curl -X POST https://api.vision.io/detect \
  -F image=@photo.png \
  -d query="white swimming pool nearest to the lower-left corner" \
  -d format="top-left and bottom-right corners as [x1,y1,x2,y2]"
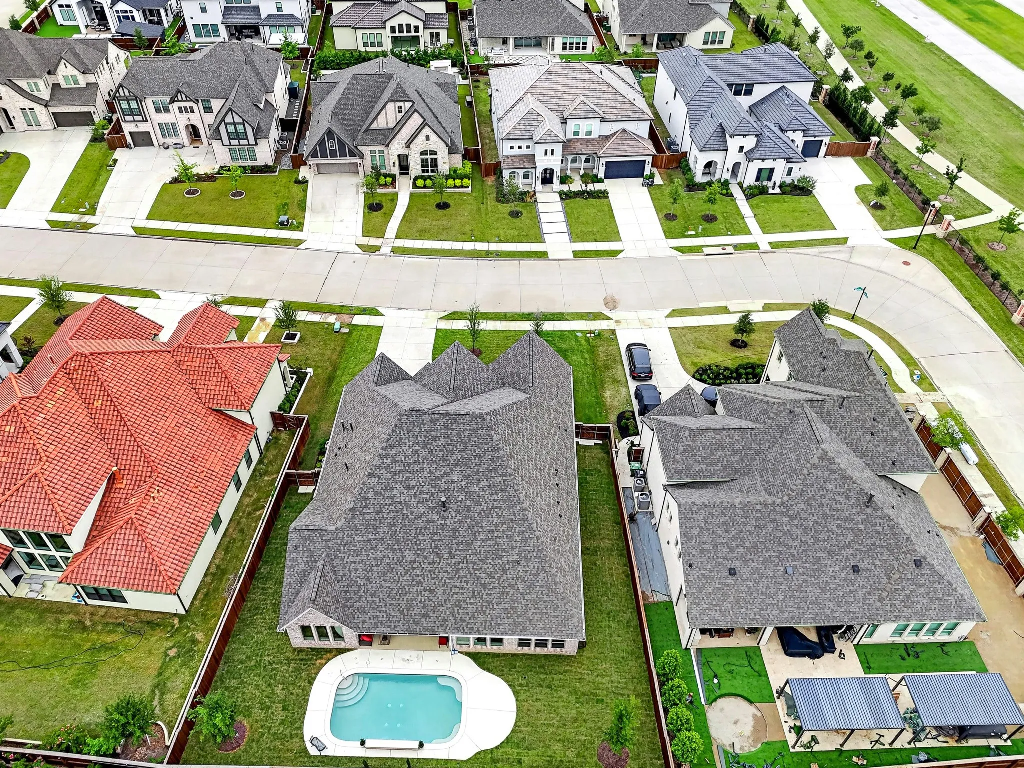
[304,652,517,760]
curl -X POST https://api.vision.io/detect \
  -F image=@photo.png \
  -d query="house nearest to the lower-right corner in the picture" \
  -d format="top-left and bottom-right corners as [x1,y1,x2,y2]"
[641,308,989,656]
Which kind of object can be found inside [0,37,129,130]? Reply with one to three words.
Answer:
house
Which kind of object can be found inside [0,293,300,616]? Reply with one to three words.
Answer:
house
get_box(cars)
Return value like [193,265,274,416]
[625,344,657,386]
[695,380,724,405]
[634,392,663,435]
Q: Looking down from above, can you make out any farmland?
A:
No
